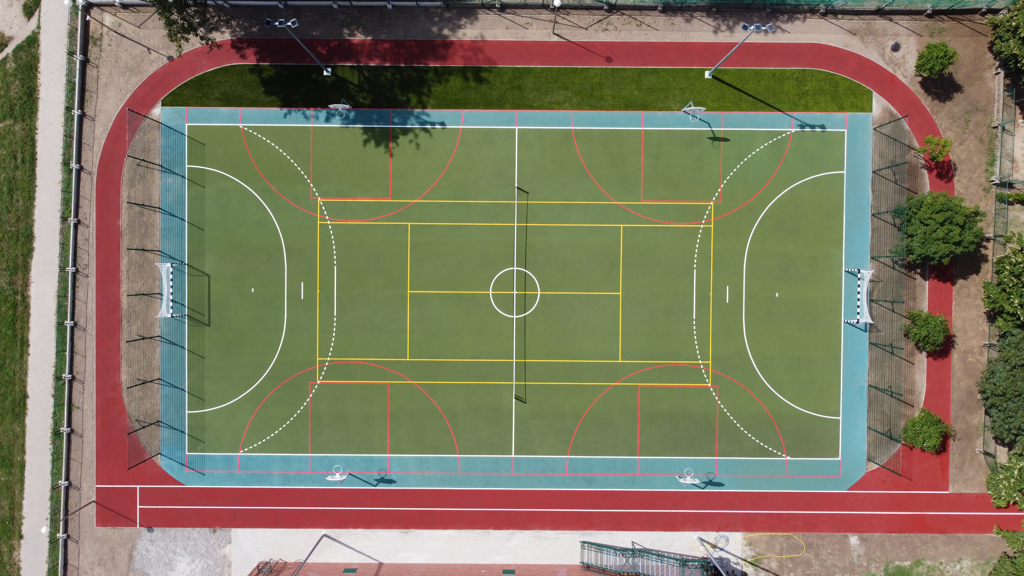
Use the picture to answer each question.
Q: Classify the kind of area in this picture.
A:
sports ground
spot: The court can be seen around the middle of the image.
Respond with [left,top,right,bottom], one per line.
[160,92,874,491]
